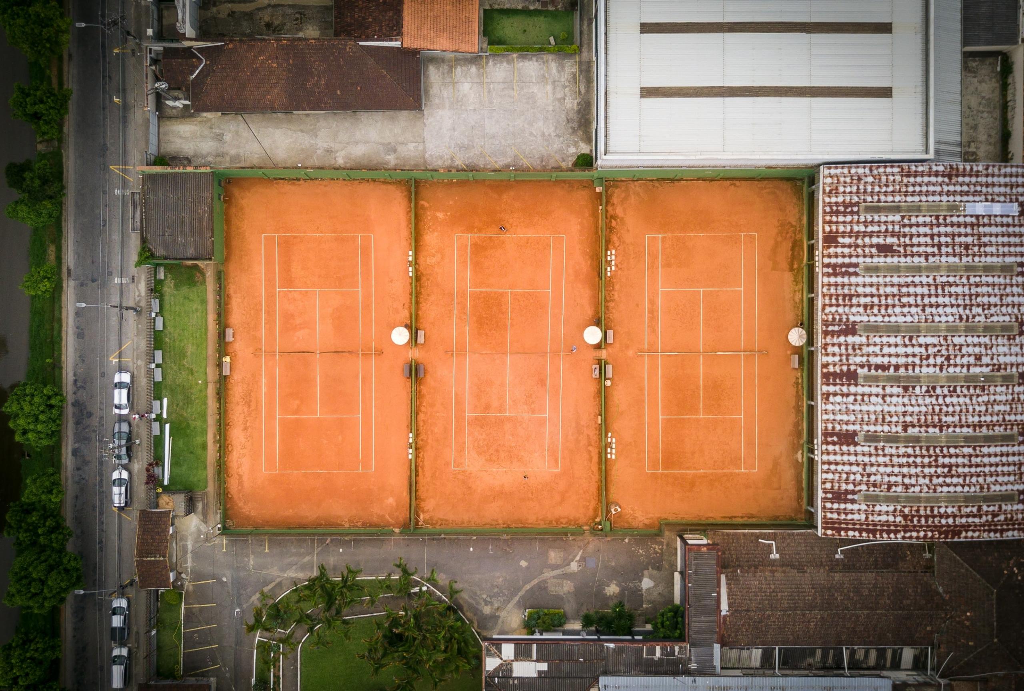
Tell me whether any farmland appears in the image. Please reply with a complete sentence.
No, there's no farmland in this view.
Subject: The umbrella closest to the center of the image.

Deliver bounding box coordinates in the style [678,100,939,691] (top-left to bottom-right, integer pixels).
[583,326,602,344]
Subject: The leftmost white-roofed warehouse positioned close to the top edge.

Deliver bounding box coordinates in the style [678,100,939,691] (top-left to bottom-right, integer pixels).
[589,0,934,170]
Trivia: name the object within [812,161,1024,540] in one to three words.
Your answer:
building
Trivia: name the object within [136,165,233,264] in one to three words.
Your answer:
building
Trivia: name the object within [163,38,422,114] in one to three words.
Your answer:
house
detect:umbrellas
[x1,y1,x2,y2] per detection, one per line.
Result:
[788,327,806,345]
[583,326,602,344]
[391,327,410,345]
